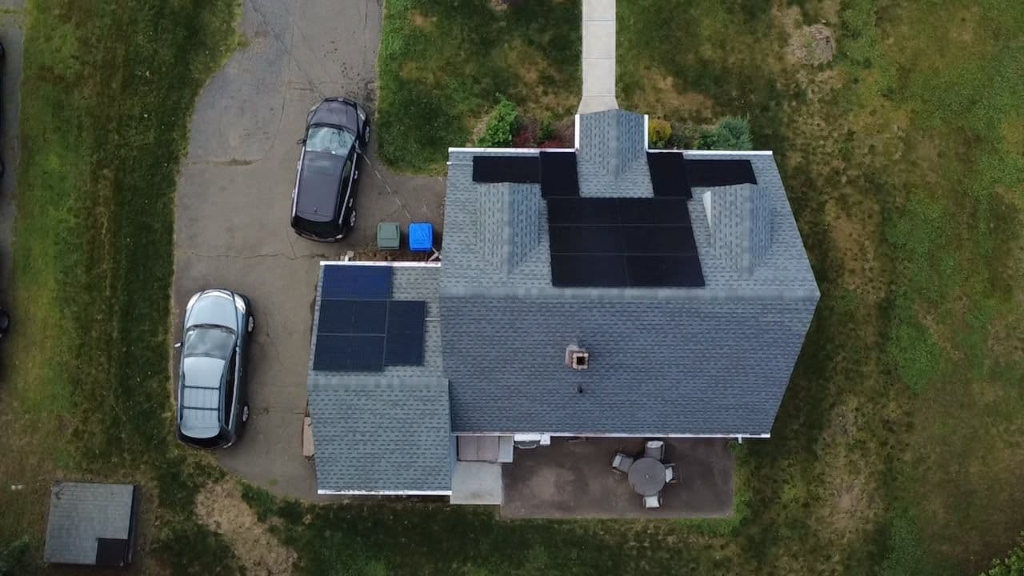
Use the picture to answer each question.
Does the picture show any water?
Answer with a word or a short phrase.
No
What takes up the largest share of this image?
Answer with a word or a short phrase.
grass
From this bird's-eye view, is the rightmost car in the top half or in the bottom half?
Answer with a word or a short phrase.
top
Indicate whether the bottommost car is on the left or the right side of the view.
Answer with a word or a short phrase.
left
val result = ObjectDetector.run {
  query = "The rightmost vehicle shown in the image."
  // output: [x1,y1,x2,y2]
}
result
[287,95,369,244]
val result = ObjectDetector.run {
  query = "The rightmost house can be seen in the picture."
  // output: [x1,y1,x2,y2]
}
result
[439,110,820,445]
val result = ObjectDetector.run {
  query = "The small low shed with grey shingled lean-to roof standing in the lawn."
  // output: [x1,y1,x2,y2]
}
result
[44,482,139,565]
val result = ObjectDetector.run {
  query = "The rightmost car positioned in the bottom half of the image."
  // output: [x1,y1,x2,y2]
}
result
[172,289,255,452]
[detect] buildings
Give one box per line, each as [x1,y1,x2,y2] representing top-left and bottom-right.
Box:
[44,482,139,565]
[439,110,820,445]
